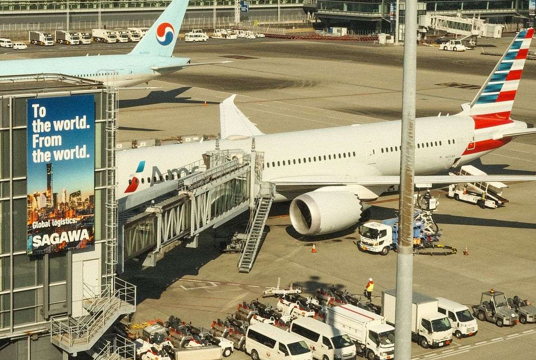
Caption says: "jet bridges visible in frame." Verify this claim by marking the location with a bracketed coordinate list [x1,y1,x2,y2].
[105,133,274,278]
[415,11,497,48]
